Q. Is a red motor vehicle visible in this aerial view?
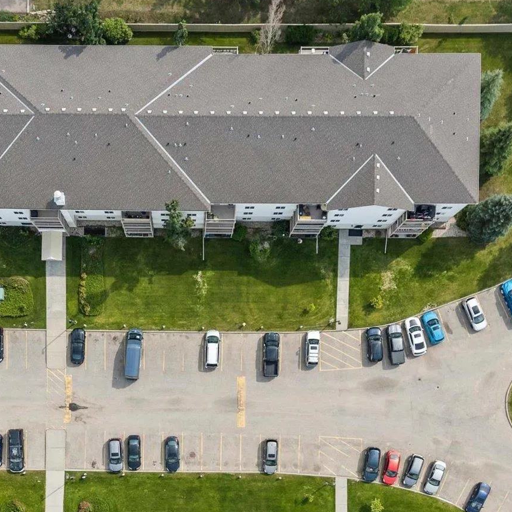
Yes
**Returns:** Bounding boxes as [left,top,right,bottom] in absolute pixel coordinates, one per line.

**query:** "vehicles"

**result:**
[125,329,144,380]
[205,331,222,368]
[304,331,322,368]
[261,439,279,475]
[69,328,87,364]
[125,436,142,470]
[499,279,512,313]
[6,429,24,473]
[465,481,490,512]
[164,437,180,472]
[403,318,426,357]
[461,297,487,333]
[361,447,380,482]
[401,453,424,488]
[365,327,384,363]
[421,311,444,346]
[422,460,445,496]
[262,333,281,377]
[106,439,123,473]
[385,324,407,366]
[381,448,400,485]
